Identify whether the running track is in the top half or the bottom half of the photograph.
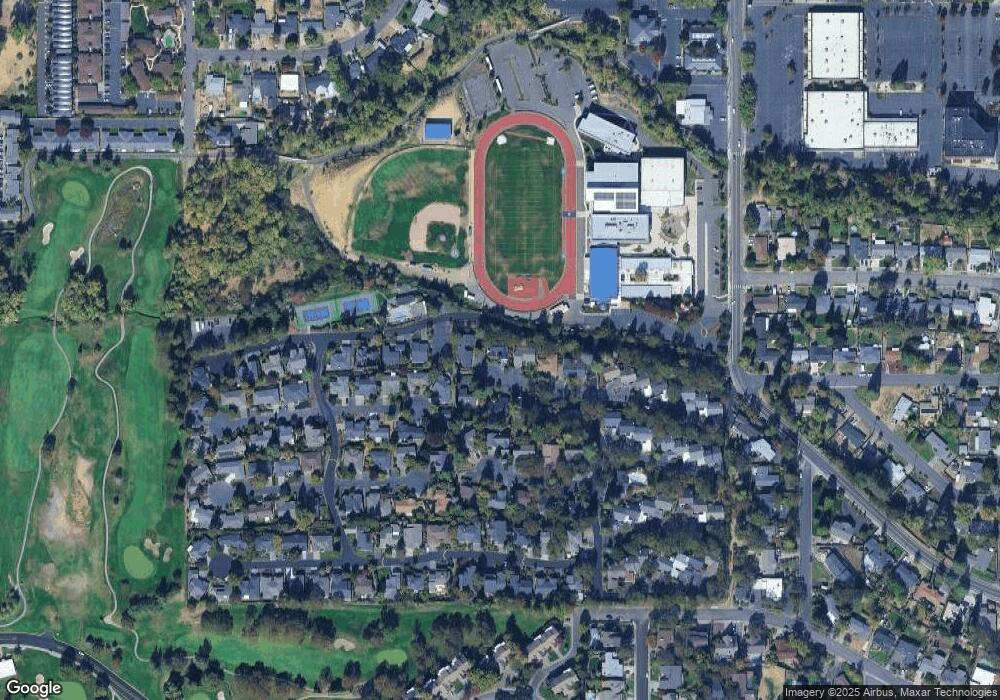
top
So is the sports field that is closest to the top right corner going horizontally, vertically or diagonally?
vertically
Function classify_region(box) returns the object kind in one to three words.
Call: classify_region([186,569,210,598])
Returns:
house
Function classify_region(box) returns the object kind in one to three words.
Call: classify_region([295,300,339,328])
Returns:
tennis court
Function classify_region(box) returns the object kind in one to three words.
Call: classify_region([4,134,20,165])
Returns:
building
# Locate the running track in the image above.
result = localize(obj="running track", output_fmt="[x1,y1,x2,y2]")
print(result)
[475,111,588,311]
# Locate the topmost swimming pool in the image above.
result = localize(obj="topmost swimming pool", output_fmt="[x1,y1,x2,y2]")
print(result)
[162,28,177,48]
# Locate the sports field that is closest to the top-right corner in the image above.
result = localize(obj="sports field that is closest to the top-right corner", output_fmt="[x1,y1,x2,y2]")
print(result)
[485,122,564,298]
